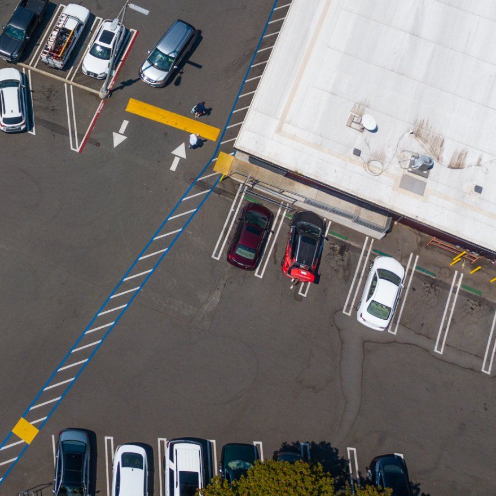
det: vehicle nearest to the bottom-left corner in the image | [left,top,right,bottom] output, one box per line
[52,429,96,496]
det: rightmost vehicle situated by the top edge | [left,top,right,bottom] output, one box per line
[143,19,196,90]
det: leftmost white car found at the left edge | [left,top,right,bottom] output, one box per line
[0,70,27,134]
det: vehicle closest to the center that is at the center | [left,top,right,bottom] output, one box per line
[226,201,274,274]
